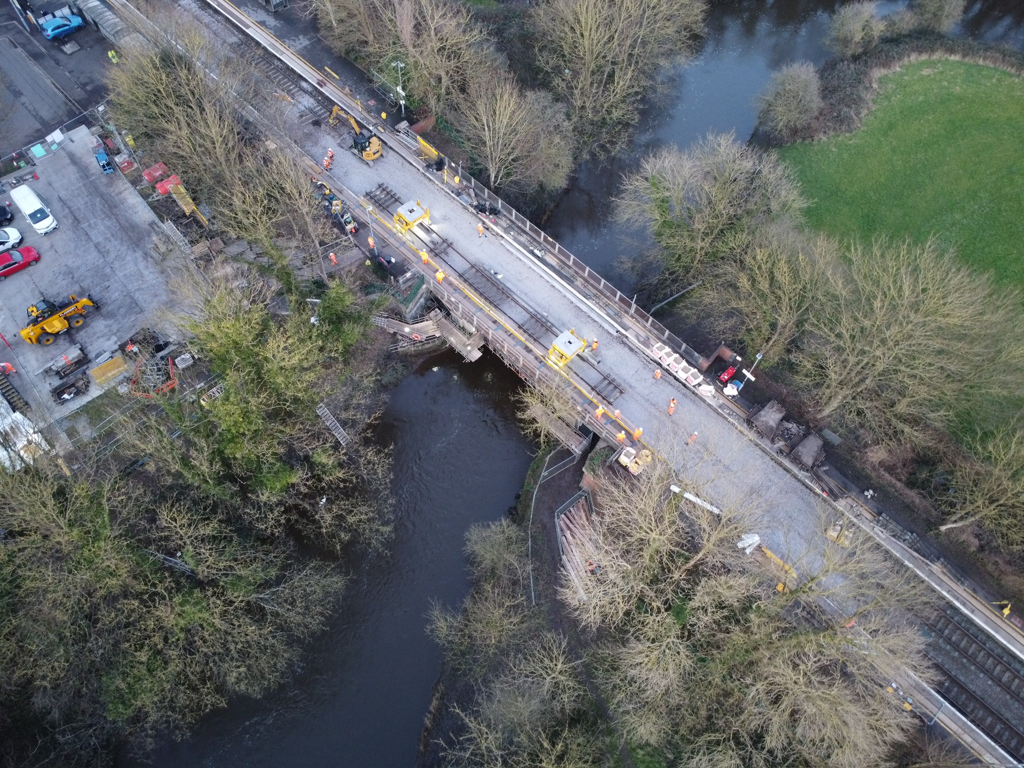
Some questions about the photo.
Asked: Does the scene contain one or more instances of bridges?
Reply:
Yes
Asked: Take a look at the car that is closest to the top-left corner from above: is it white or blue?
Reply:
blue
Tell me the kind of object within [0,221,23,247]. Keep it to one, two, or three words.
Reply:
car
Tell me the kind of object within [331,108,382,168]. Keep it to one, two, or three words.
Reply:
work vehicle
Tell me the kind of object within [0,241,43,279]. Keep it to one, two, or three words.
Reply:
car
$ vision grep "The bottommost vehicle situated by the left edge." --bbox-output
[14,285,117,343]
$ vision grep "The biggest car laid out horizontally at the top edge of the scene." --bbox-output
[36,15,84,39]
